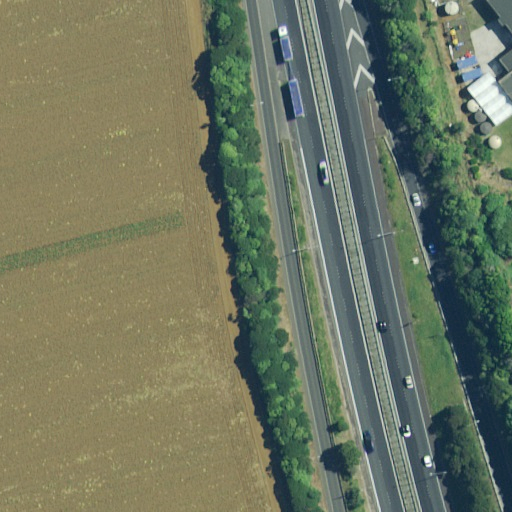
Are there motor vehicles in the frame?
Yes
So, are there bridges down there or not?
No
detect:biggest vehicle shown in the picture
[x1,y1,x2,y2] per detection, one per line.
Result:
[278,25,304,117]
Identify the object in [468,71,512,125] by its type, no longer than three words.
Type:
shed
